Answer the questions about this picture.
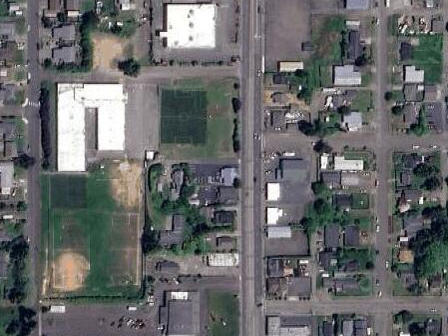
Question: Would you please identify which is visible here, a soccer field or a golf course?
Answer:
soccer field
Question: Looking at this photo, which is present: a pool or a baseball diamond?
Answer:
baseball diamond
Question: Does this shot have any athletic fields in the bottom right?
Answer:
No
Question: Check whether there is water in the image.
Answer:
No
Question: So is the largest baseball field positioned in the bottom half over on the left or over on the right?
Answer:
left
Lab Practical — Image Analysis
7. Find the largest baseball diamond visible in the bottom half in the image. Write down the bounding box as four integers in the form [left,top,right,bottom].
[49,160,142,297]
